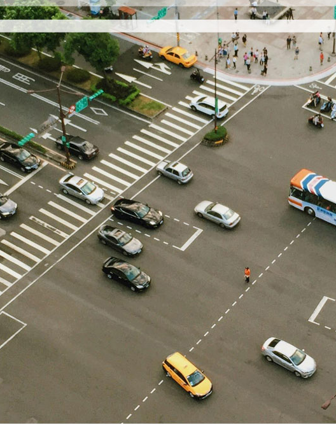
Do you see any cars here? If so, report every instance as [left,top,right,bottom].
[57,174,106,205]
[153,162,198,188]
[192,203,243,232]
[0,192,19,220]
[54,136,101,162]
[112,199,163,229]
[0,143,41,173]
[260,339,318,380]
[94,226,147,259]
[99,258,153,293]
[162,349,213,401]
[158,45,201,67]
